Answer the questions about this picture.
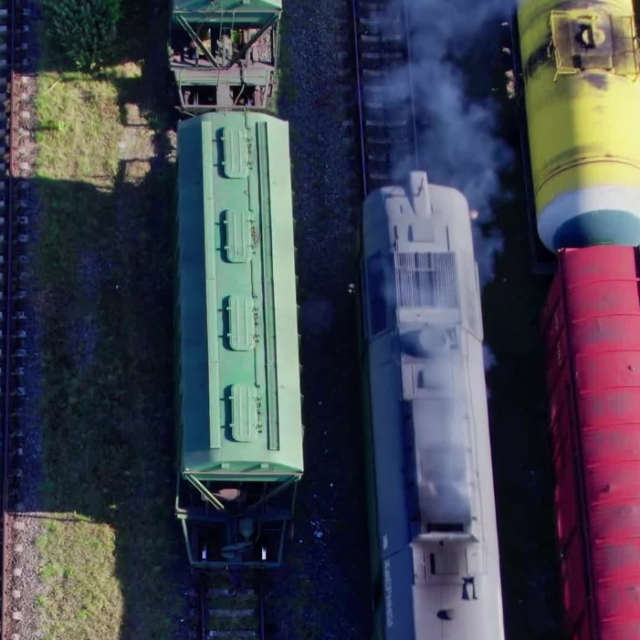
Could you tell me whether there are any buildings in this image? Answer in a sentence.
No, the photo shows no building.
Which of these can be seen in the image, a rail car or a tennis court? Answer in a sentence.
Looking from above, you can make out a rail car.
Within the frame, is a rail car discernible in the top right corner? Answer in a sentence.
Yes, a rail car can be seen in the top right corner.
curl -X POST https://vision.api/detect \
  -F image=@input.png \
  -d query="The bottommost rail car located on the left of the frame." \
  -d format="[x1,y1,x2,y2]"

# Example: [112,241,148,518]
[168,113,306,582]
